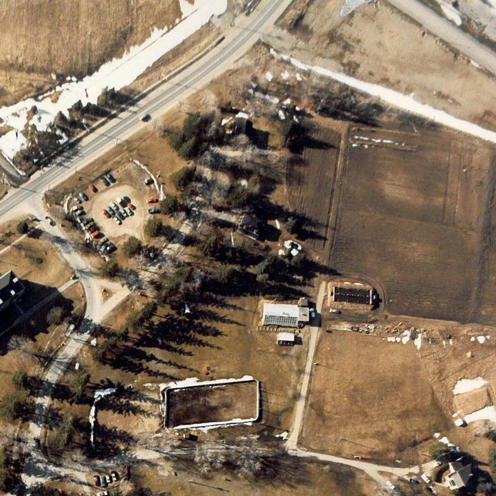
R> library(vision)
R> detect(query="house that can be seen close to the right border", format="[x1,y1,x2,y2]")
[434,455,474,493]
